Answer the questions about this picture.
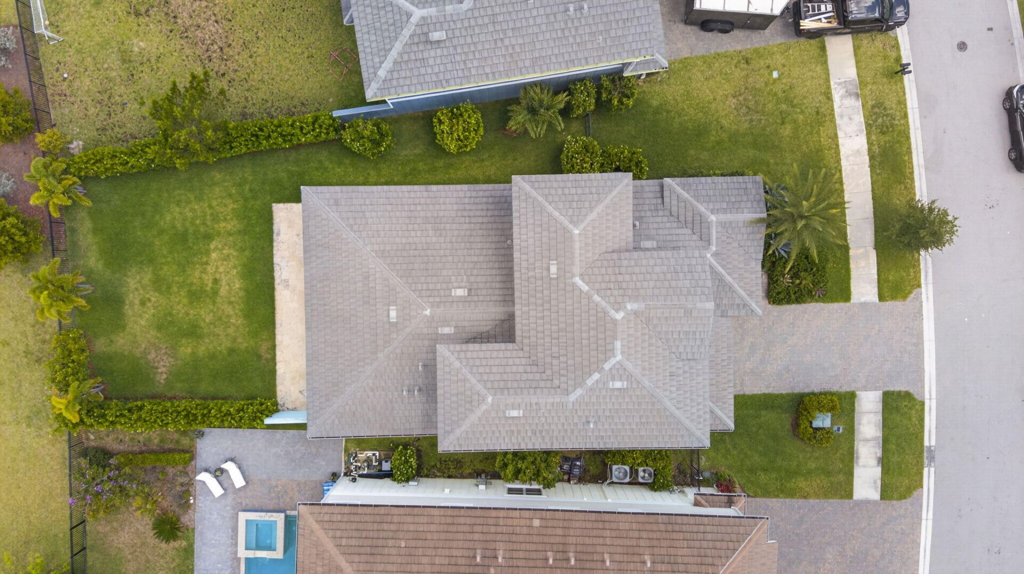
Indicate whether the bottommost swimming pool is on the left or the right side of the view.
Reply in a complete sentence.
It is on the left.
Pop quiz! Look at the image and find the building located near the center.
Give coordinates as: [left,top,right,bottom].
[300,171,769,456]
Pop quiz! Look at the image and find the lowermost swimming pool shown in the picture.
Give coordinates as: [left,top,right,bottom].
[237,546,294,574]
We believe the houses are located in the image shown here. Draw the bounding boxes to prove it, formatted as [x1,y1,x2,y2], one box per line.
[300,171,769,456]
[339,0,670,117]
[293,476,782,574]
